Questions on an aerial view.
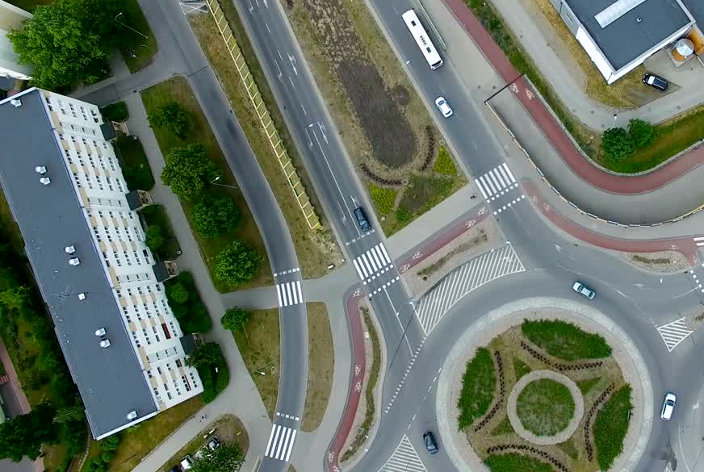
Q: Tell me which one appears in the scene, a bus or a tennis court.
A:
bus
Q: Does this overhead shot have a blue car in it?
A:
Yes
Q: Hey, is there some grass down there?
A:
Yes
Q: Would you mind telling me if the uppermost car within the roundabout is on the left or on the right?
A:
right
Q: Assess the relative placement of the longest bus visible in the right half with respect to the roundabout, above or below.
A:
above it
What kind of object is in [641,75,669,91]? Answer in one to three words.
car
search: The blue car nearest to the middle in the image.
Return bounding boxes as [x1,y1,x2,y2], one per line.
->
[353,205,369,232]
